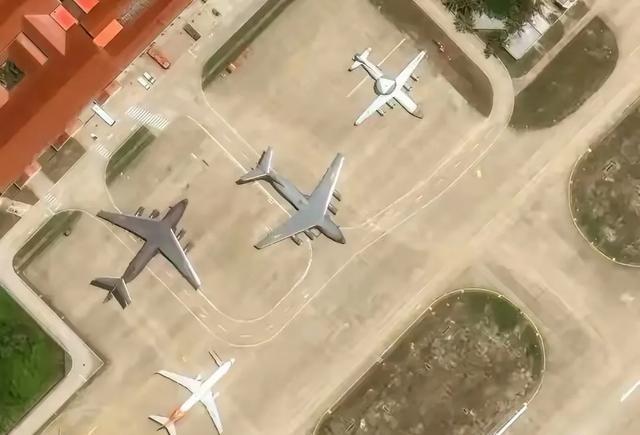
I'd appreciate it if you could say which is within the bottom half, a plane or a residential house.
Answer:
plane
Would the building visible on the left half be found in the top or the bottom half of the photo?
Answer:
top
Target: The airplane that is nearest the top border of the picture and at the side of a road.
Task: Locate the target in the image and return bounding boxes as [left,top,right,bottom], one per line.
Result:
[349,47,426,126]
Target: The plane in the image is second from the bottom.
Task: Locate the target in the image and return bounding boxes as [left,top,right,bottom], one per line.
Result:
[92,200,198,308]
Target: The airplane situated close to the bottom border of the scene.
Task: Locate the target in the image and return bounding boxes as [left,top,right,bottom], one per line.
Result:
[149,358,235,435]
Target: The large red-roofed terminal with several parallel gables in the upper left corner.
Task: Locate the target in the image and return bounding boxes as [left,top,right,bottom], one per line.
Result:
[0,0,194,195]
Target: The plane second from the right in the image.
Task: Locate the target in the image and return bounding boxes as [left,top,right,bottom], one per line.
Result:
[239,145,345,250]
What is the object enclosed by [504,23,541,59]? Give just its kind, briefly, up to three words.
house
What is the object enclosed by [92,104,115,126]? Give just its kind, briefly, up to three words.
bus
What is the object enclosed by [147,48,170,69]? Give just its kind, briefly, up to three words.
vehicle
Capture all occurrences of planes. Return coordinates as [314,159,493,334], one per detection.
[239,145,345,250]
[349,47,426,126]
[149,358,235,435]
[92,200,198,308]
